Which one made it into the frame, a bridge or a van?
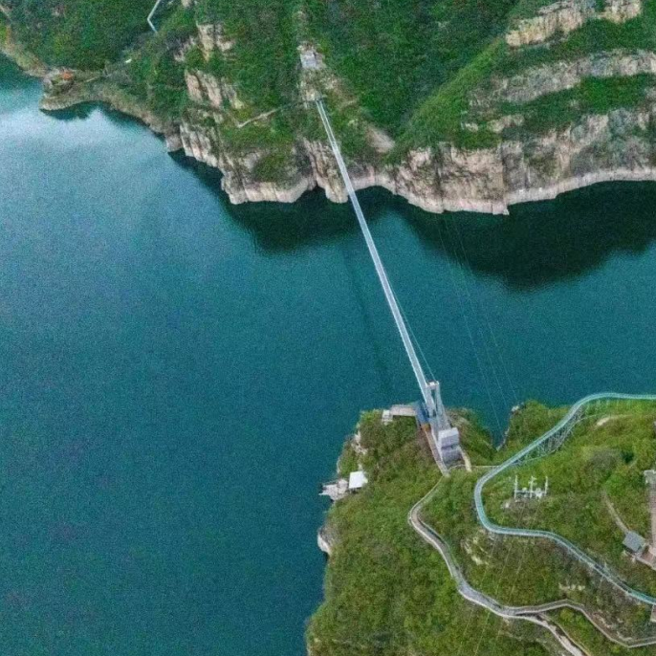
bridge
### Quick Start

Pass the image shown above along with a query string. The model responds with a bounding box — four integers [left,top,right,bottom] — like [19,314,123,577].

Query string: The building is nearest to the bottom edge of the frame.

[621,532,649,562]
